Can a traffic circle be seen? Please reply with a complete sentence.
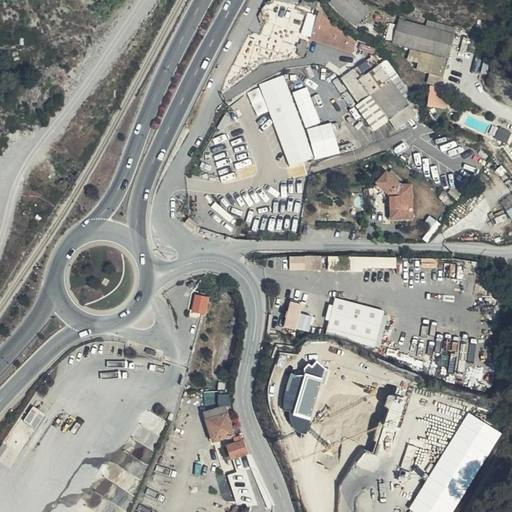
Yes, a traffic circle is visible in the scene.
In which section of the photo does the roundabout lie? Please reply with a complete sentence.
Look in the left portion of the view to spot the roundabout.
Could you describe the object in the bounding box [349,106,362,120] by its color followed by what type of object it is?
white vehicle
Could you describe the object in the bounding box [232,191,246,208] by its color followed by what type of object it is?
white vehicle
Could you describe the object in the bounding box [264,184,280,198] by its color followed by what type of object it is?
white camper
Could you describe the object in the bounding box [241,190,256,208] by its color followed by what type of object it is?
white camper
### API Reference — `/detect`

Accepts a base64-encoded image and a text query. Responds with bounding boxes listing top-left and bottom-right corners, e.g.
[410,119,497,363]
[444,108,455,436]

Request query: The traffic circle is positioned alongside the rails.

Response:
[48,218,156,332]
